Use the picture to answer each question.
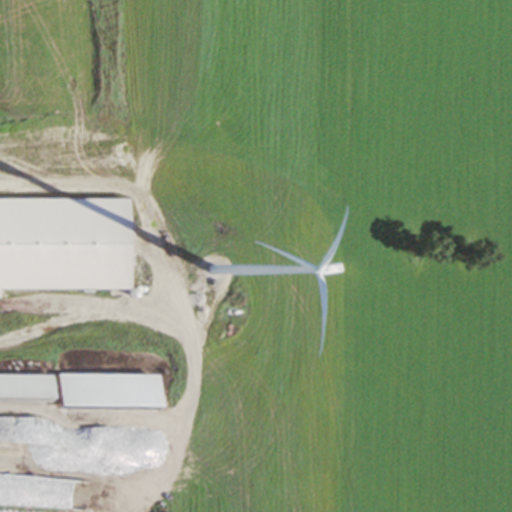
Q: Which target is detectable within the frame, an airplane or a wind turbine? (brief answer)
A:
wind turbine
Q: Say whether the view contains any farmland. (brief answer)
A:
Yes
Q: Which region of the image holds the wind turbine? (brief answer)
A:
center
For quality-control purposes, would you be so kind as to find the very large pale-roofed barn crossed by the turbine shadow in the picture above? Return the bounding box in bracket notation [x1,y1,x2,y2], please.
[0,198,135,296]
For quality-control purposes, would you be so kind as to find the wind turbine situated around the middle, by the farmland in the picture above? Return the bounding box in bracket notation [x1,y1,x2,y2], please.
[206,204,350,360]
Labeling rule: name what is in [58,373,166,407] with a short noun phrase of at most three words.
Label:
shed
